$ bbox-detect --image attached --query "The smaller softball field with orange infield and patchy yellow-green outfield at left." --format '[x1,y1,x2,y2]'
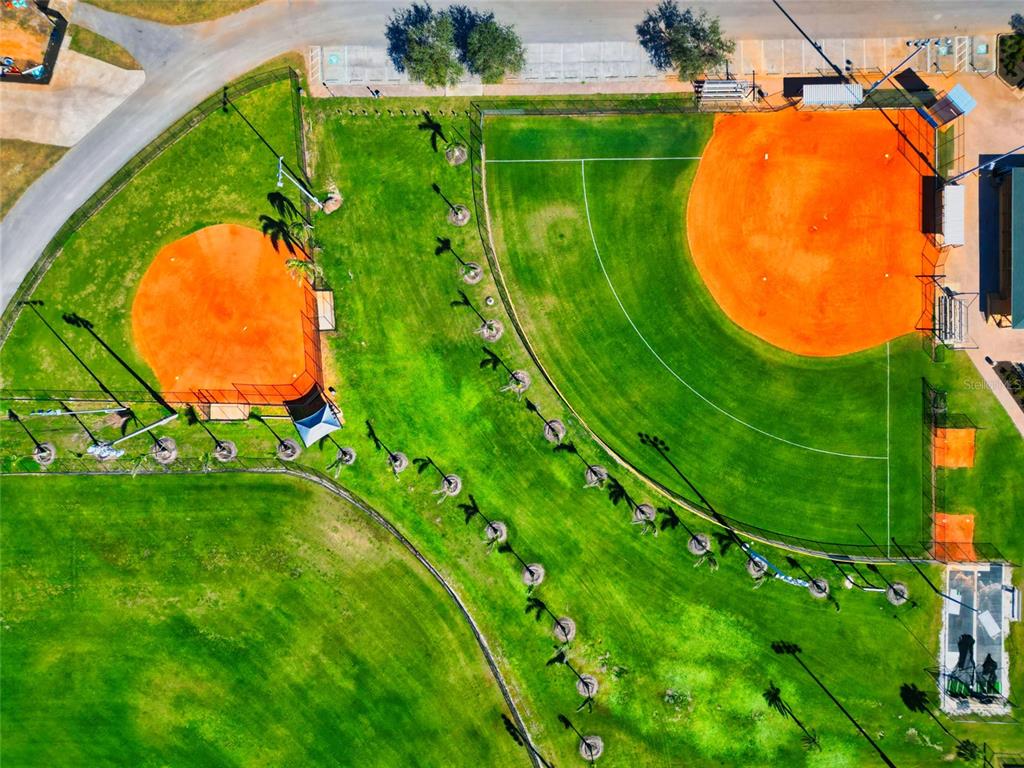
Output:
[0,78,323,404]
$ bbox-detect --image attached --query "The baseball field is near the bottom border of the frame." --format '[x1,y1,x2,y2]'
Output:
[0,472,537,768]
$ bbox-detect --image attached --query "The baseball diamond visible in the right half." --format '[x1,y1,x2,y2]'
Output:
[485,110,936,560]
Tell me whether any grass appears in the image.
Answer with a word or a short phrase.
Yes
